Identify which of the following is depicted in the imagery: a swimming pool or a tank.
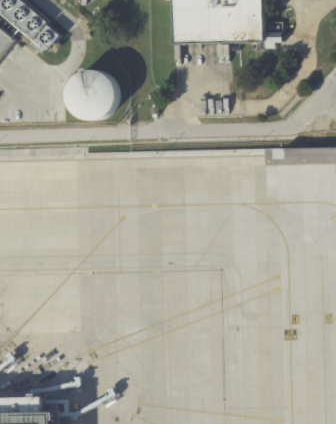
tank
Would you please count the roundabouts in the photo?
none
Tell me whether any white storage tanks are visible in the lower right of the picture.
No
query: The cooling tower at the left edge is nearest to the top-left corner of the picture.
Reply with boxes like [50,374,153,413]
[0,0,62,52]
